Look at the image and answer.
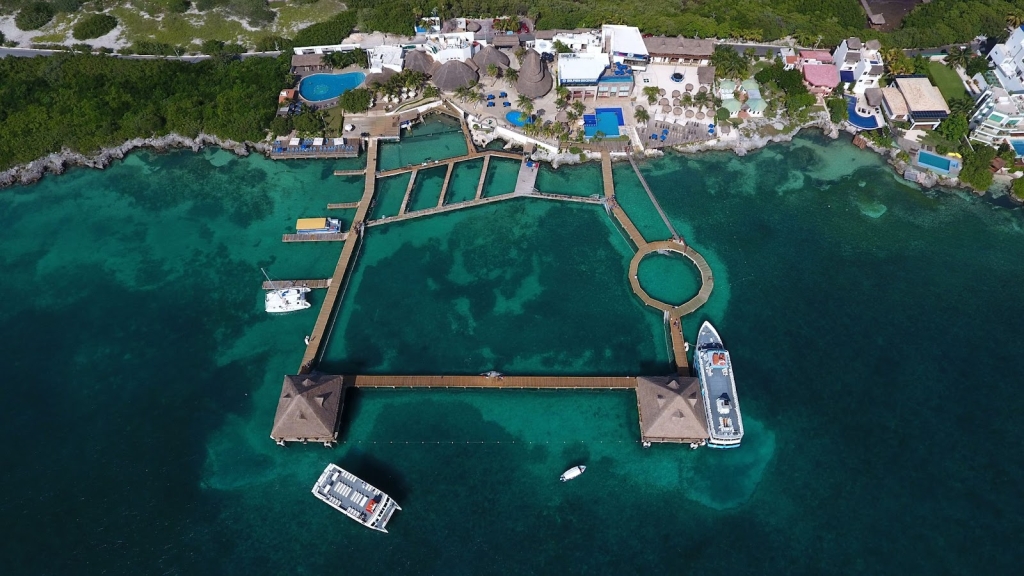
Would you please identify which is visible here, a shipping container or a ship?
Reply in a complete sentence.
There is a ship in the scene.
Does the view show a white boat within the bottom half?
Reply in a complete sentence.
Yes, a white boat can be seen within the bottom half.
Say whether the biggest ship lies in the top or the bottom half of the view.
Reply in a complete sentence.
The biggest ship sits in the bottom half of the picture.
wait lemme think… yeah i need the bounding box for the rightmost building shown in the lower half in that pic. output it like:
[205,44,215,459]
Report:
[634,376,708,445]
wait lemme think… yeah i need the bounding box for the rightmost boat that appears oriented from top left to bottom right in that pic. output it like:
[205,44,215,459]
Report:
[311,463,400,530]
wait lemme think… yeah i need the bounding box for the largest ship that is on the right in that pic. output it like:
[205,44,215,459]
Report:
[695,319,745,449]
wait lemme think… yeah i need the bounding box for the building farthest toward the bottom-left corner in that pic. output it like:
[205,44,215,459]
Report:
[270,375,348,444]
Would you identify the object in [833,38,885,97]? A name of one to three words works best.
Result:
house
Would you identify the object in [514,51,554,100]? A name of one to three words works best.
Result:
shed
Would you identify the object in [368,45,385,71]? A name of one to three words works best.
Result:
house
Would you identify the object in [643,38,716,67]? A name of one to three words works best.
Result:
building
